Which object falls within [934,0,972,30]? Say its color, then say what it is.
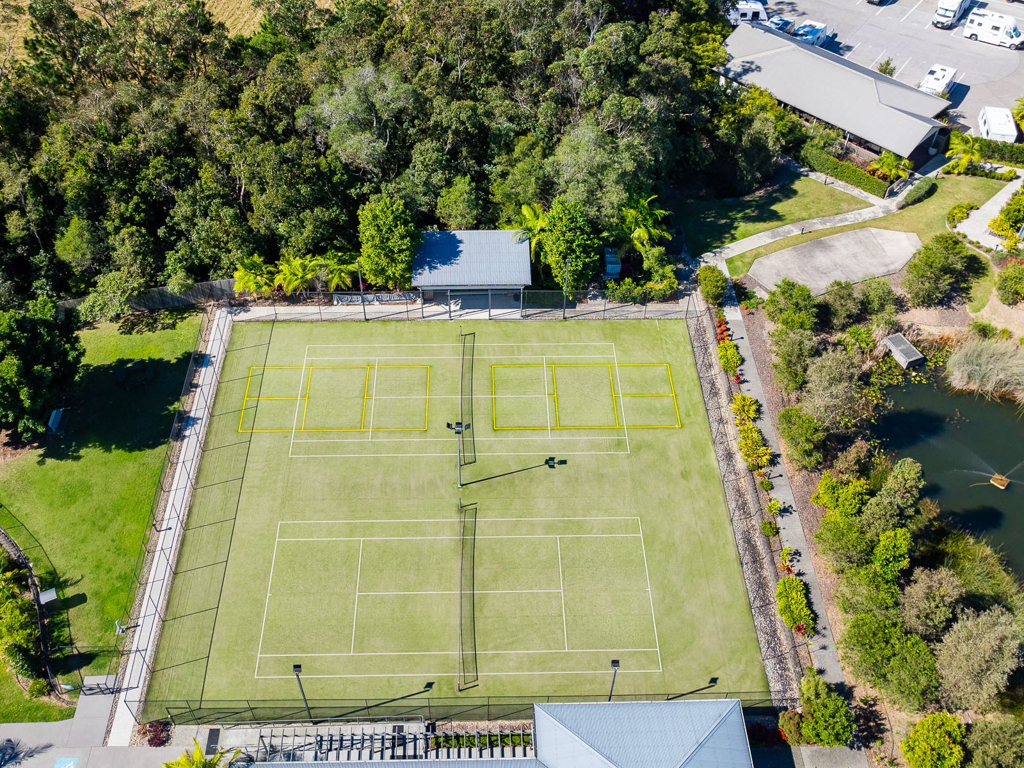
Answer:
white camper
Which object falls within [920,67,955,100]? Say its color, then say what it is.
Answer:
white camper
